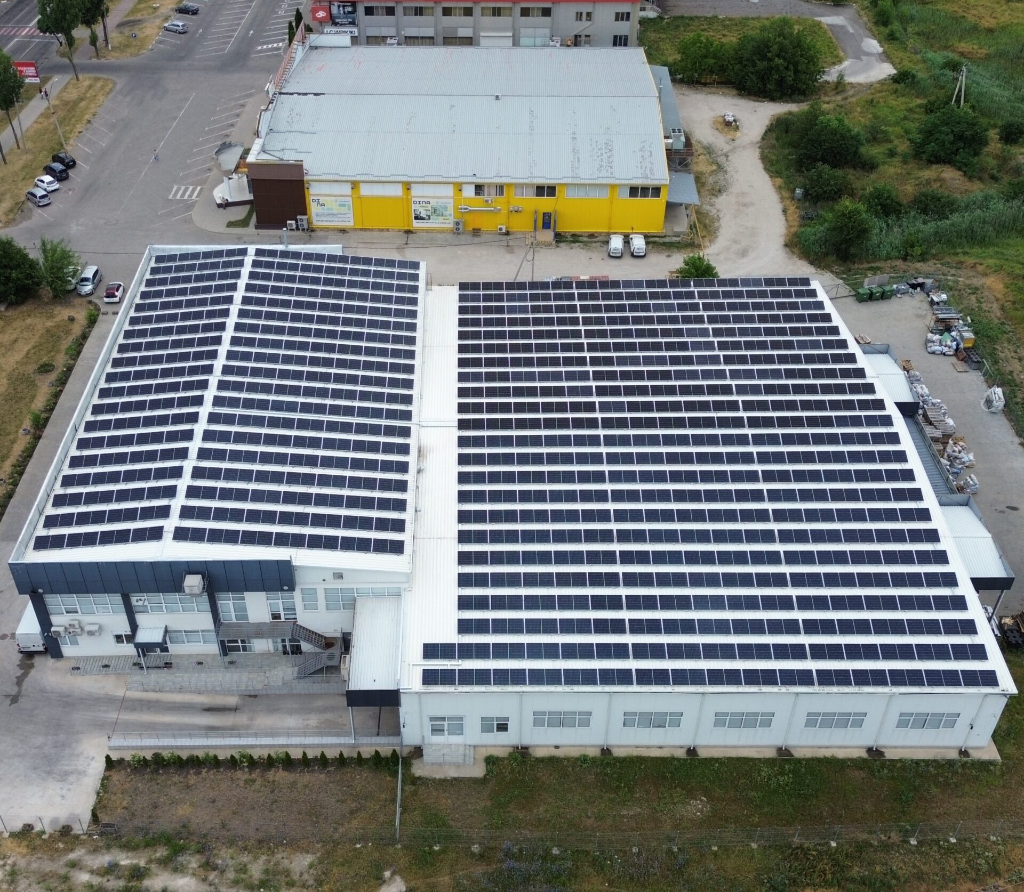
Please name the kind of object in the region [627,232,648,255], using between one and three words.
vehicle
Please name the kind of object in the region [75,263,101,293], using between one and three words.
car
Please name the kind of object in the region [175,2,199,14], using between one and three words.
vehicle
